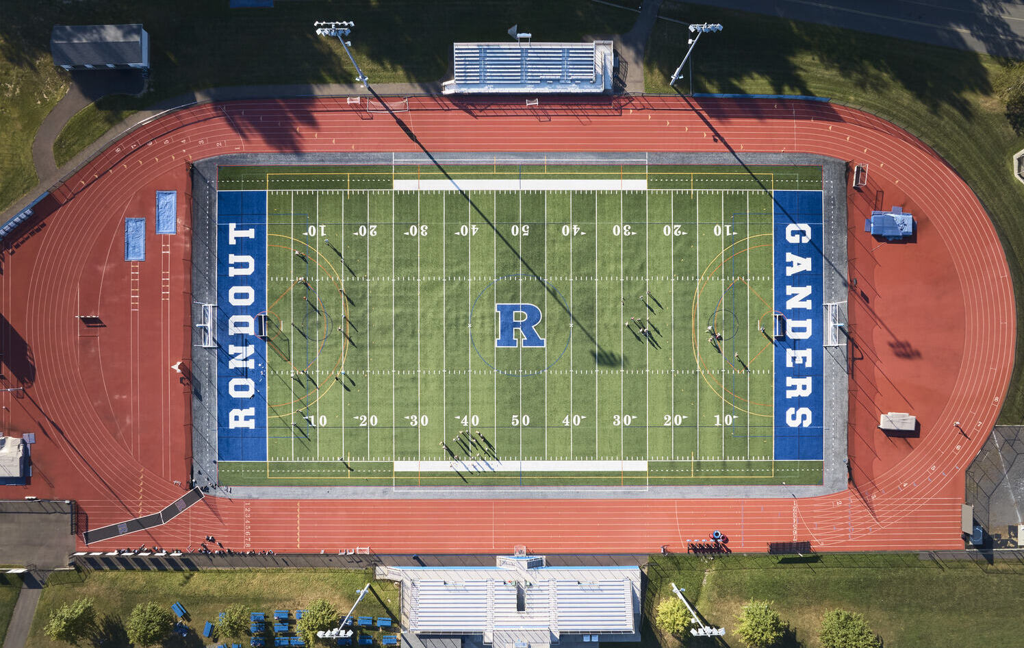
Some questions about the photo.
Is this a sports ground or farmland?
sports ground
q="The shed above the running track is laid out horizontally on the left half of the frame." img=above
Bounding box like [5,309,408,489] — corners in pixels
[48,26,155,75]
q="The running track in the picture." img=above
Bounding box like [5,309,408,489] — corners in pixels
[0,97,1017,553]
